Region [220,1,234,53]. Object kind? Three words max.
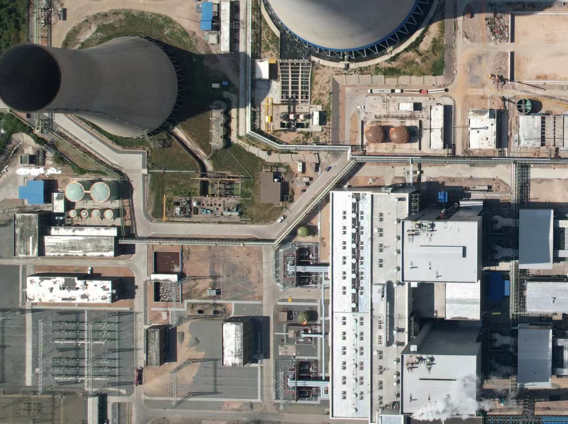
building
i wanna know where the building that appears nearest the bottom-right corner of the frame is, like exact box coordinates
[515,325,553,389]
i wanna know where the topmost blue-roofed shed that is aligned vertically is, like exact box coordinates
[201,2,214,31]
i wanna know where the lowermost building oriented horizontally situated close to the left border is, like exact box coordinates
[26,273,126,303]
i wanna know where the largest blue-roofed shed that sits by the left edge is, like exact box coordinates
[19,180,49,204]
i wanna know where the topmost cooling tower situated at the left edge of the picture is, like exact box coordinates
[0,32,188,144]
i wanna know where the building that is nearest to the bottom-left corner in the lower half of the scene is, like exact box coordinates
[88,395,102,424]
